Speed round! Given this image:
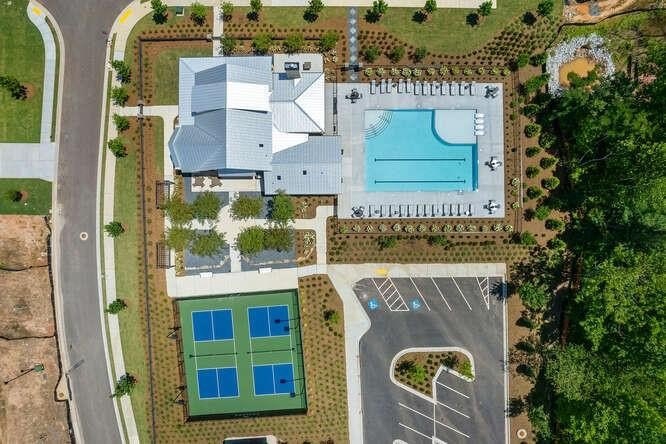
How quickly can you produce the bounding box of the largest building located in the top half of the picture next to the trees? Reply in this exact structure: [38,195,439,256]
[168,53,343,195]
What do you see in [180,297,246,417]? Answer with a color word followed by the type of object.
green sports court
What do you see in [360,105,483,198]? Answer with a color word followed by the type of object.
blue swimming pool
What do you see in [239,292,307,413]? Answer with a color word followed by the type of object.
green sports court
